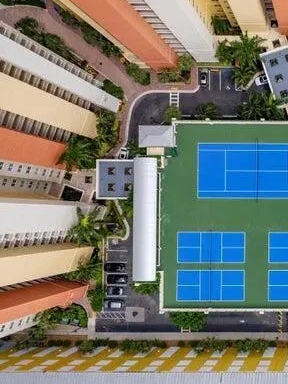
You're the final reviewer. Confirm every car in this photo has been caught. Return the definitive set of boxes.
[250,74,270,86]
[107,286,123,296]
[106,273,129,285]
[104,261,127,273]
[198,67,209,91]
[103,297,127,309]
